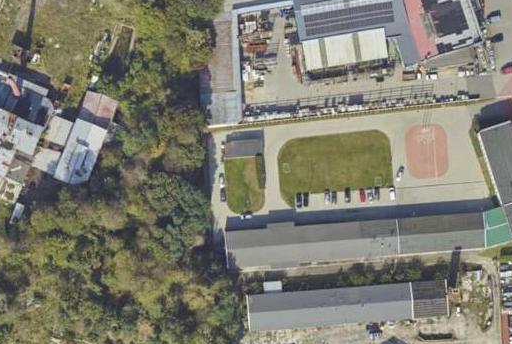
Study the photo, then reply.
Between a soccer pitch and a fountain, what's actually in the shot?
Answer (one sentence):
Of the two, only a soccer pitch appears.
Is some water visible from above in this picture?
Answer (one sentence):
No, no water is visible.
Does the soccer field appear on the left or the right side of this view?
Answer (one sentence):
The soccer field is on the right side of the image.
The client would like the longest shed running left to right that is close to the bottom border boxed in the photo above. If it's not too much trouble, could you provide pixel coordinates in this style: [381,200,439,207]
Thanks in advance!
[248,282,414,331]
